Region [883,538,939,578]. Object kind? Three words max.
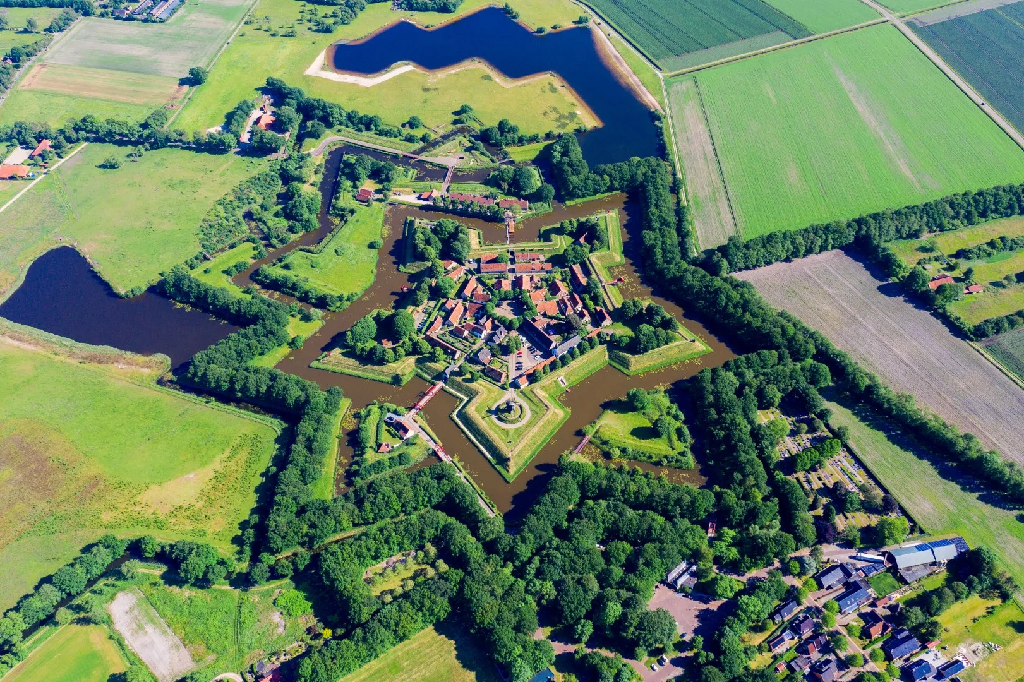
barn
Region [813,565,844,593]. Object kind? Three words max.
house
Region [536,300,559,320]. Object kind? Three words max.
house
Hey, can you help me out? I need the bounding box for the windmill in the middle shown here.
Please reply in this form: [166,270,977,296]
[496,387,522,418]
